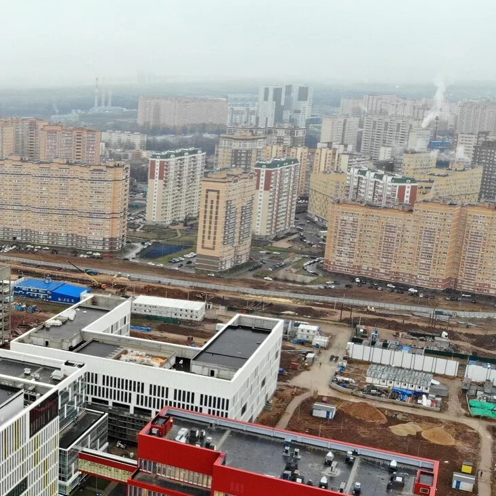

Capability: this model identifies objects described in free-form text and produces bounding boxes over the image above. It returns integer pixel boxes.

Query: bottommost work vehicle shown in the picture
[109,439,139,454]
